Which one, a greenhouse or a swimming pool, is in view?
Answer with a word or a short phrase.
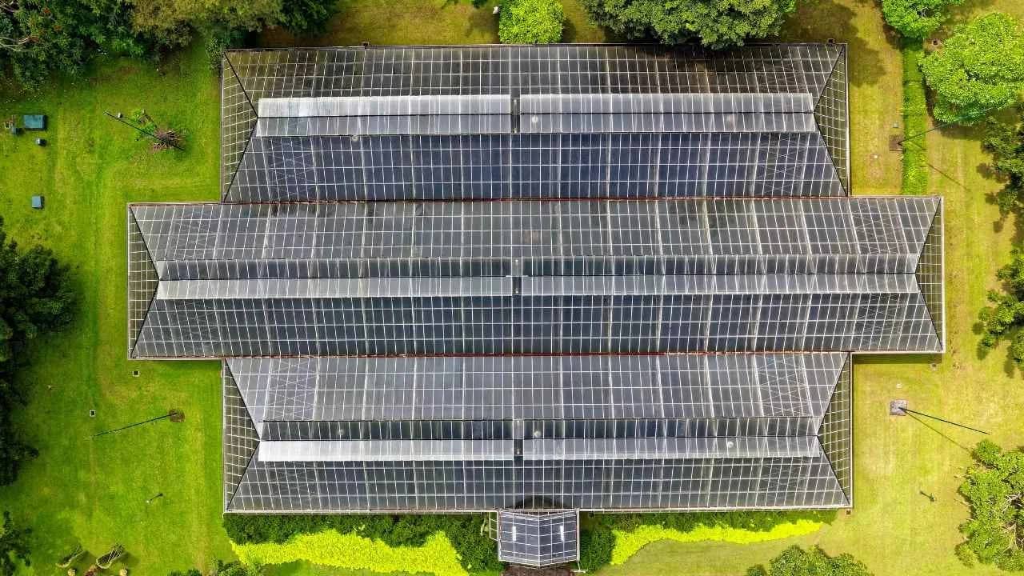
greenhouse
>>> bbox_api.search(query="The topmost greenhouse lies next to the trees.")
[127,42,945,513]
